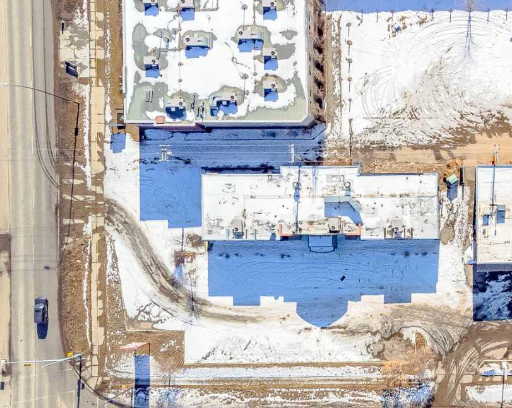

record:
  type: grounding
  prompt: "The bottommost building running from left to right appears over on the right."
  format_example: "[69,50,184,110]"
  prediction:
[202,166,439,256]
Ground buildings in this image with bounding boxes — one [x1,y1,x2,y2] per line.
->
[476,164,512,271]
[122,0,320,137]
[202,166,439,256]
